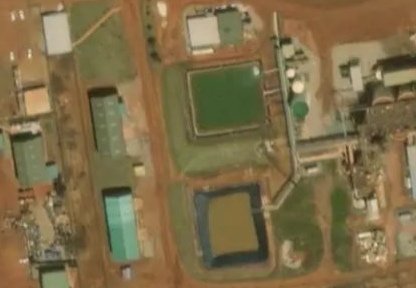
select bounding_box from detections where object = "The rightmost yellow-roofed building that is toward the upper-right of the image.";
[383,70,416,87]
